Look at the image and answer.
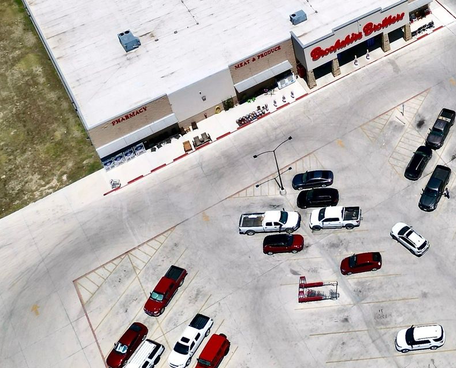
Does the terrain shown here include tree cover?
No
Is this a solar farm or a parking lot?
parking lot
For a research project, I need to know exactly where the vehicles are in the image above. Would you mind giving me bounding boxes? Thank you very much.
[404,147,431,183]
[146,266,187,319]
[296,186,341,212]
[392,225,430,259]
[340,251,385,279]
[428,109,455,150]
[394,324,447,356]
[236,208,301,238]
[168,313,214,368]
[125,338,164,368]
[292,172,334,193]
[308,207,361,233]
[106,323,151,368]
[420,166,450,212]
[261,233,306,259]
[195,334,229,368]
